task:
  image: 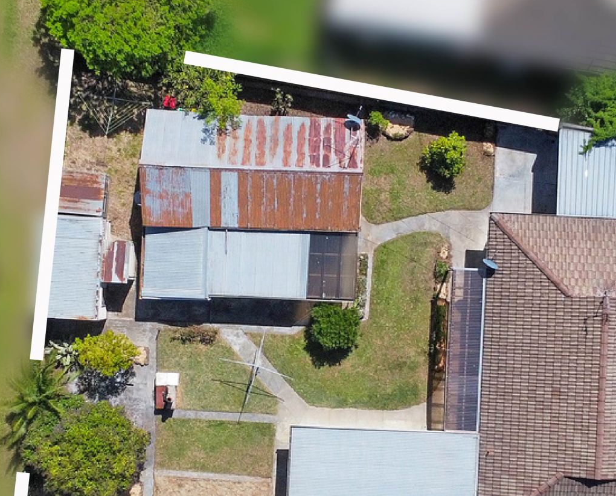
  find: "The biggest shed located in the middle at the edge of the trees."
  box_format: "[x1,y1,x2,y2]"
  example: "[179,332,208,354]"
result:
[138,106,367,301]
